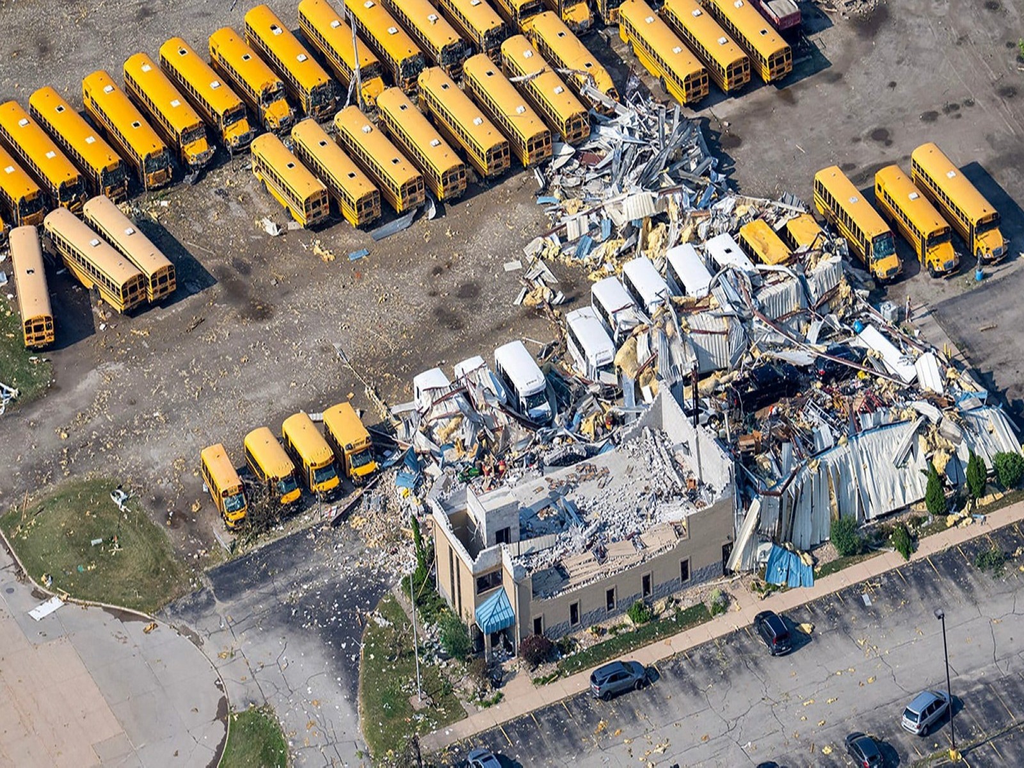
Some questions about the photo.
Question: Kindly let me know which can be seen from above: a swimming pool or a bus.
bus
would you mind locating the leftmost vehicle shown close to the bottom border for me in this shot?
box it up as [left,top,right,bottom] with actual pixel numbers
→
[463,740,503,768]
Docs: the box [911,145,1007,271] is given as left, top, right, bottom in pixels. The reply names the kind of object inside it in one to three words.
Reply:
bus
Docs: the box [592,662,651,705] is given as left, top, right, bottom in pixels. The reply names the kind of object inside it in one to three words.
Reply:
car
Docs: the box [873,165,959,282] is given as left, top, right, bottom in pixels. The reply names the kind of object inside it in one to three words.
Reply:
bus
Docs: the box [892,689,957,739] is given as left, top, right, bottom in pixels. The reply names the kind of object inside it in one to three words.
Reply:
car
